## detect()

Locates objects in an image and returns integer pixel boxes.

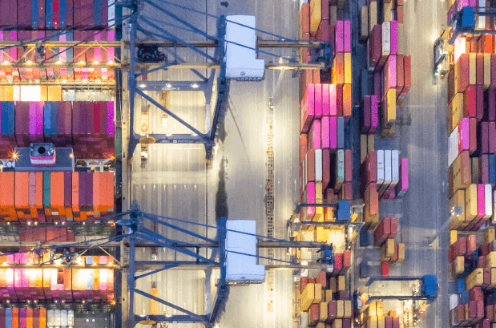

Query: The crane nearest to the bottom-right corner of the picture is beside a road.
[349,273,442,325]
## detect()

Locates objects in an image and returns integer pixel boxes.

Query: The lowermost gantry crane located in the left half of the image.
[0,195,334,328]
